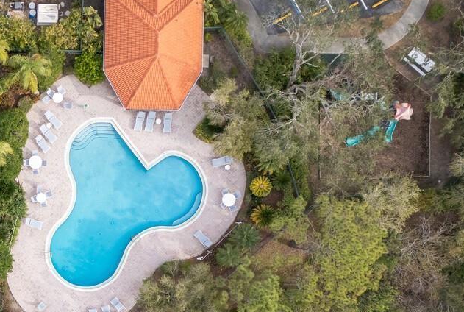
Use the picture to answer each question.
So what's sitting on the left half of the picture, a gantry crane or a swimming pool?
swimming pool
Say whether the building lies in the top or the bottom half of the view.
top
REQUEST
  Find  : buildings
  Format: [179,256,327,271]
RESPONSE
[102,0,204,111]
